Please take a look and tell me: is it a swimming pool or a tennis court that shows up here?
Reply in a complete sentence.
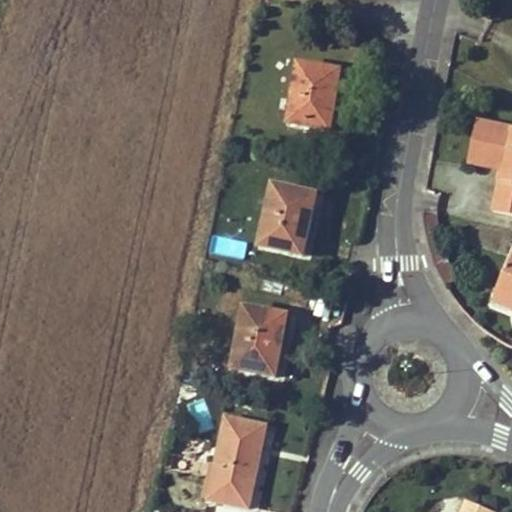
Visible in the photo is a swimming pool.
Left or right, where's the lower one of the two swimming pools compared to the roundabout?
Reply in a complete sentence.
To the left of the roundabout is where the lower one of the two swimming pools appears.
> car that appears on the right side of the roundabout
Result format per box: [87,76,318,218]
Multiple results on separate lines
[474,360,492,382]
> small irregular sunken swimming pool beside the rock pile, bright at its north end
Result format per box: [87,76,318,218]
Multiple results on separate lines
[186,397,215,434]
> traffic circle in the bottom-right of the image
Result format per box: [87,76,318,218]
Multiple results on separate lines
[354,322,466,433]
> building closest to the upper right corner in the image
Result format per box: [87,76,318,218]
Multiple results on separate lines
[466,117,512,216]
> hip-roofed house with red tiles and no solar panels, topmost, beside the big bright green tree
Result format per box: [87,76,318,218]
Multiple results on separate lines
[284,58,341,134]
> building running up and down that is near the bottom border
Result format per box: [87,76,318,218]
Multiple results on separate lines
[204,412,268,512]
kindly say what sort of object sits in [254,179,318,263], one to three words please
house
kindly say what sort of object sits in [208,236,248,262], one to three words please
swimming pool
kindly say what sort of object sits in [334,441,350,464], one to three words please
car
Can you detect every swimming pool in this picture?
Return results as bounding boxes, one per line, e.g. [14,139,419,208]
[186,397,215,434]
[208,236,248,262]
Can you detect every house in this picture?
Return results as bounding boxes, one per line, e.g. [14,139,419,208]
[284,58,341,134]
[204,412,268,512]
[227,301,288,382]
[254,179,318,263]
[434,494,496,512]
[466,117,512,216]
[488,246,512,331]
